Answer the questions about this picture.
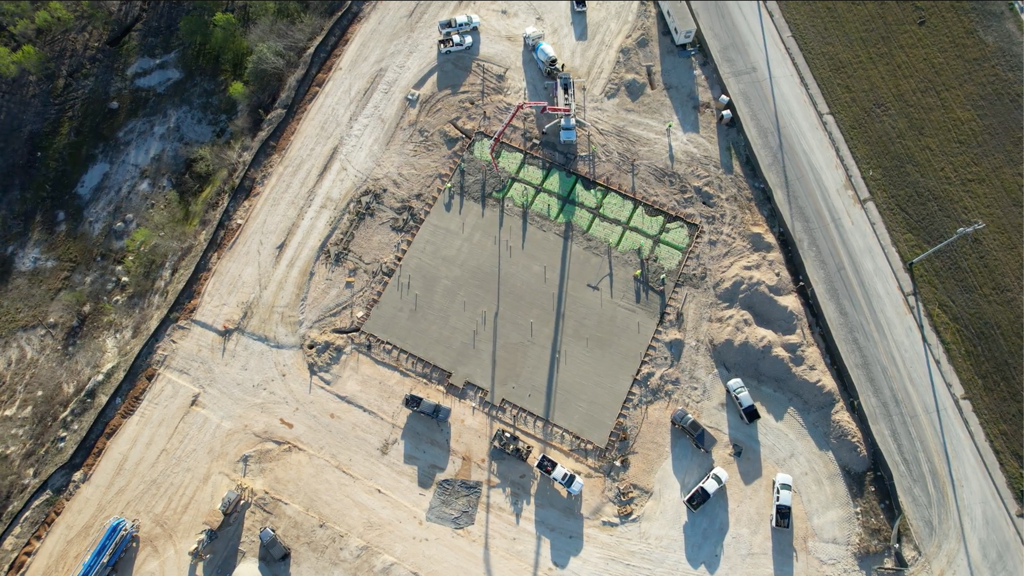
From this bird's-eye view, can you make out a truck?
Yes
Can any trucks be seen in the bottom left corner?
Yes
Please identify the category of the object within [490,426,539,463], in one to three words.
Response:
trailer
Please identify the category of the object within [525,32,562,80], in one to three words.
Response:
truck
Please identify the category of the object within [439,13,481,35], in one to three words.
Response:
truck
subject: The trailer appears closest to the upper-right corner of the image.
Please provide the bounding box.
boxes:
[646,0,696,52]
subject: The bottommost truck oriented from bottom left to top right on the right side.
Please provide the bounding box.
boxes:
[682,466,729,515]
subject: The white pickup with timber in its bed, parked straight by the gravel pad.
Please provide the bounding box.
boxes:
[770,474,796,530]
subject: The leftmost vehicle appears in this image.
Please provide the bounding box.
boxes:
[70,507,153,576]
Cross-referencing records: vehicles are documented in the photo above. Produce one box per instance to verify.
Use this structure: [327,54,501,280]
[525,32,562,80]
[200,478,255,557]
[258,526,291,567]
[682,466,729,515]
[402,392,452,423]
[770,474,796,530]
[489,78,592,178]
[439,13,481,35]
[669,408,717,454]
[534,453,584,494]
[70,507,153,576]
[573,0,588,12]
[439,33,474,55]
[726,379,762,424]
